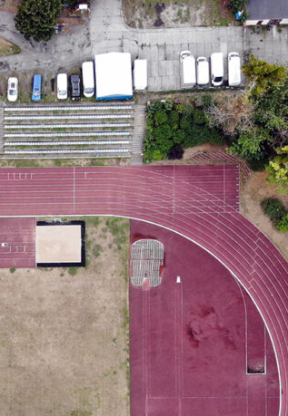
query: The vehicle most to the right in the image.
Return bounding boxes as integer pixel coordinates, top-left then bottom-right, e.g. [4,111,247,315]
[224,57,239,88]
